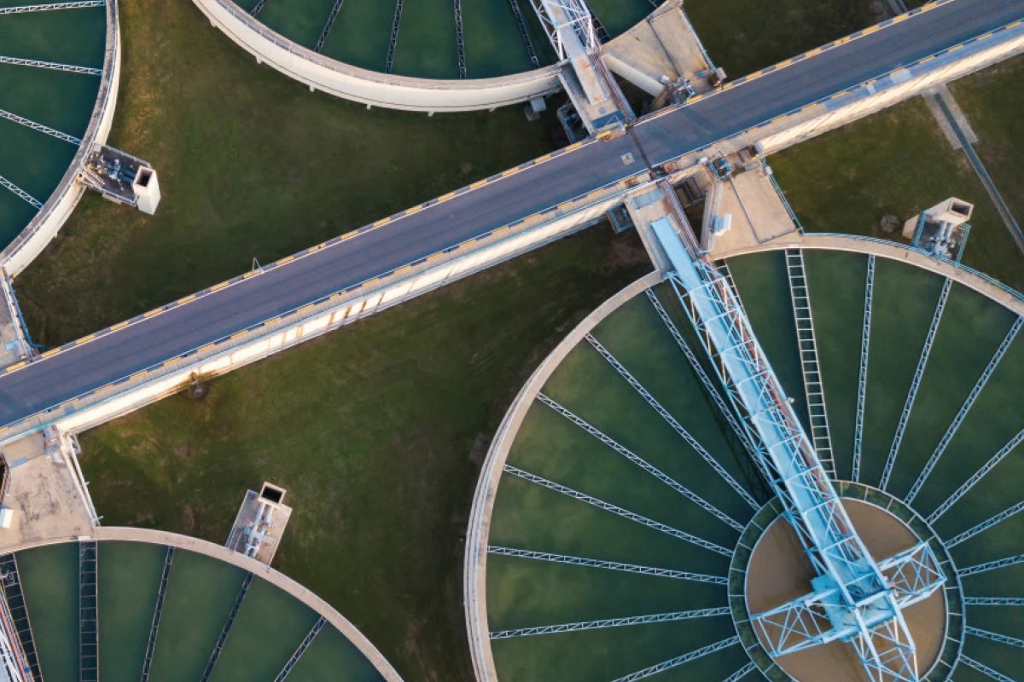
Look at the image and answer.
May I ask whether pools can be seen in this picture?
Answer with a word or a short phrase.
No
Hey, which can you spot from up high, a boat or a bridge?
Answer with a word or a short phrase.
bridge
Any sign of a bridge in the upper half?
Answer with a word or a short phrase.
Yes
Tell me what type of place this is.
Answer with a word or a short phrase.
industrial area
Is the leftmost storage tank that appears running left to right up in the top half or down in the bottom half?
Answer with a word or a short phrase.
bottom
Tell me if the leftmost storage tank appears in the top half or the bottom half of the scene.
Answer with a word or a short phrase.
top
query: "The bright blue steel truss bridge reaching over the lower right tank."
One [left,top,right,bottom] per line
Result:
[648,214,918,682]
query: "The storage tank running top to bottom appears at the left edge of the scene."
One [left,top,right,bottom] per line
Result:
[0,0,123,280]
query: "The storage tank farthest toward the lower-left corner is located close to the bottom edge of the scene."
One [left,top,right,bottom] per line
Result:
[0,523,403,682]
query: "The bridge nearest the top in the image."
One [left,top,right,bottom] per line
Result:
[528,0,611,106]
